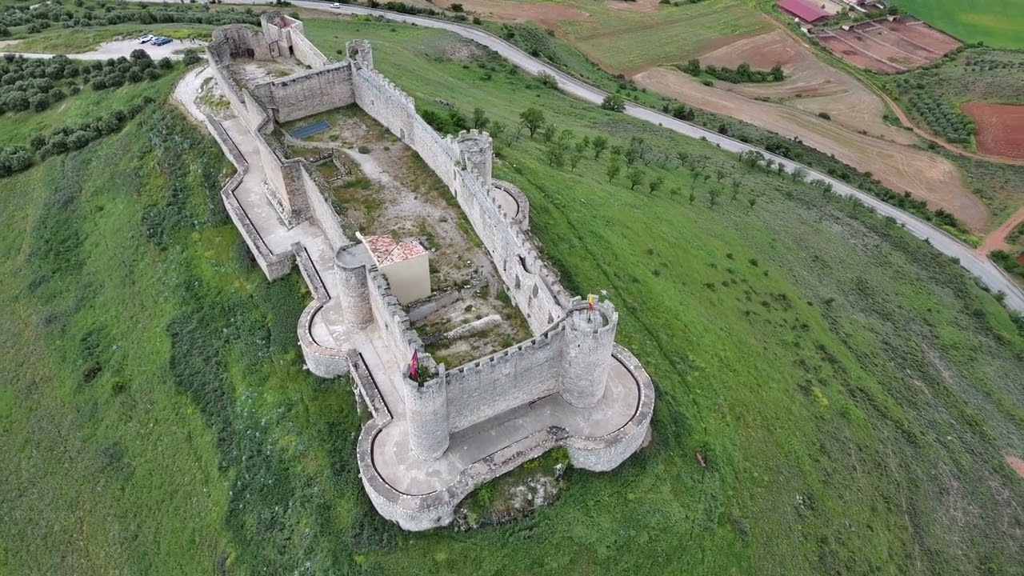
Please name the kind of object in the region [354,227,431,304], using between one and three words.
house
